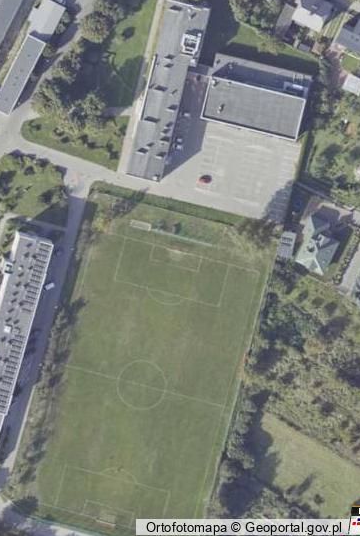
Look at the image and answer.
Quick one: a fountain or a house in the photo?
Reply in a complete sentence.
The image shows a house.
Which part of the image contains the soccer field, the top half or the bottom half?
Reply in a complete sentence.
The soccer field is in the bottom half of the image.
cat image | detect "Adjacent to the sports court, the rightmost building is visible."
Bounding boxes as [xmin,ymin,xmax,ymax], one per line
[294,210,338,272]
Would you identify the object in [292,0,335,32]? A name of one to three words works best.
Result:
house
